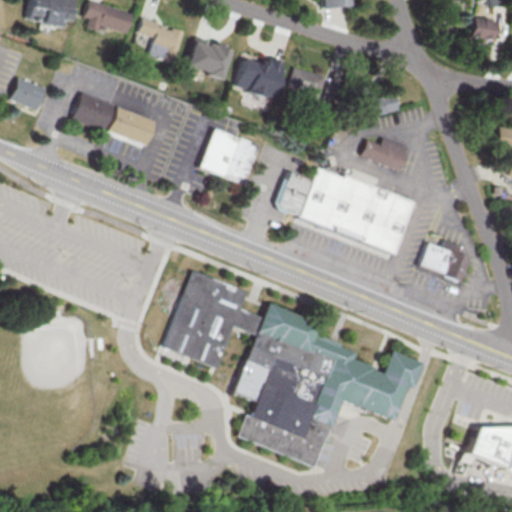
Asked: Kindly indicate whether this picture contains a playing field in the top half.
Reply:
No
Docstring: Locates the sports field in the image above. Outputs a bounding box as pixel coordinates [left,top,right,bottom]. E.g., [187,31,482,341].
[2,315,96,450]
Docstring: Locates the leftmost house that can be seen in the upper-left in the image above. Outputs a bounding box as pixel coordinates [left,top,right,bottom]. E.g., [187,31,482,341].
[10,78,46,112]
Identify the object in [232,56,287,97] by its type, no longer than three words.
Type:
house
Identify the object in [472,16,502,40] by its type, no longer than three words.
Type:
house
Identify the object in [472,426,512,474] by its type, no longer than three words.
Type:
building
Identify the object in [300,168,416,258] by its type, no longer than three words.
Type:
building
